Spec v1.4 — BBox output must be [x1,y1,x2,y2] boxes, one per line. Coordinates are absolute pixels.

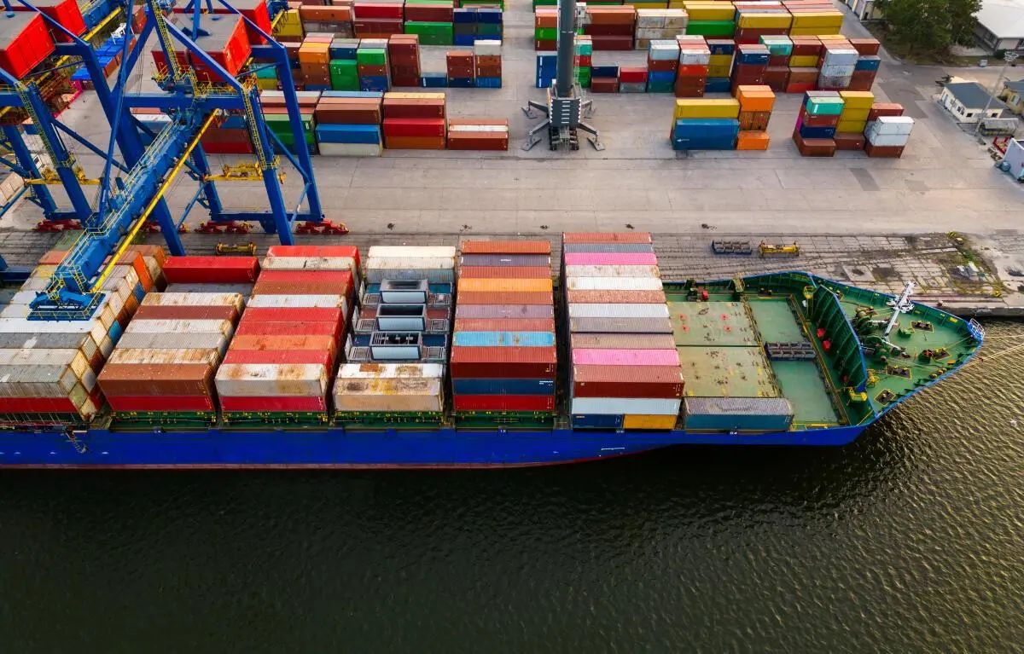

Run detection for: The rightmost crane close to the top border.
[521,0,605,149]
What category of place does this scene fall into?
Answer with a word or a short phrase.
port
